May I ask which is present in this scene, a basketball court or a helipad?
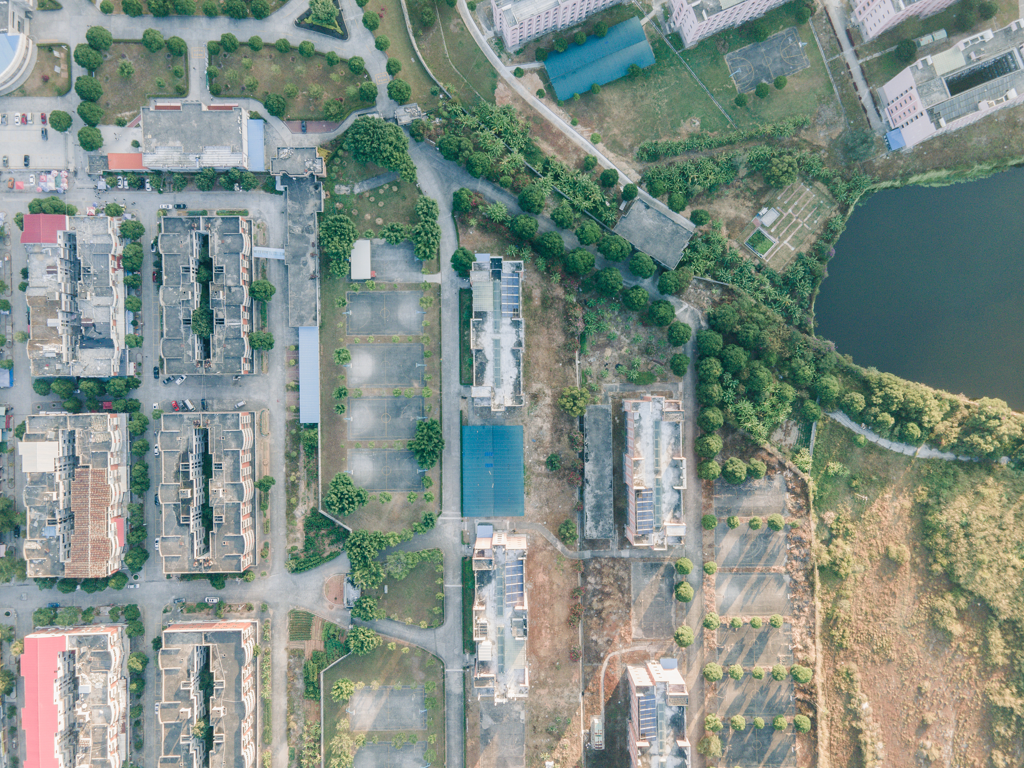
basketball court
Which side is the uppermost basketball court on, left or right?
right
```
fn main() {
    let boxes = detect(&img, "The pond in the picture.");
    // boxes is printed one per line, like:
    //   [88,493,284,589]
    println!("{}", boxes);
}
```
[816,169,1024,413]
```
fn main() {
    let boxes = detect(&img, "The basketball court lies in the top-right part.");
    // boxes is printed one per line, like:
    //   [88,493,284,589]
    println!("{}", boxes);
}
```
[724,27,810,93]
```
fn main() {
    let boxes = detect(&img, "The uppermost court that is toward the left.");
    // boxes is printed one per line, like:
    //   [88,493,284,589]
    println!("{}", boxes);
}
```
[346,238,424,284]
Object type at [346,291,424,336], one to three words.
basketball court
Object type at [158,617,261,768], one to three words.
building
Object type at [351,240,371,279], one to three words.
shed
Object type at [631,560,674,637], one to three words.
sports court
